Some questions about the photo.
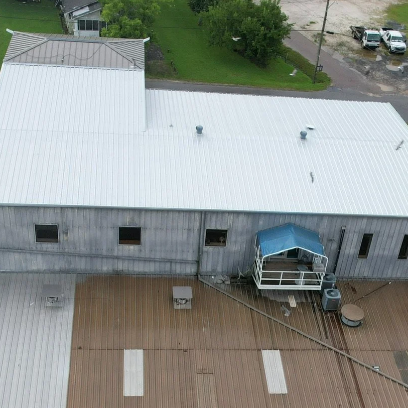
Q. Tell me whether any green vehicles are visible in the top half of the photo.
No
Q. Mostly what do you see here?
buildings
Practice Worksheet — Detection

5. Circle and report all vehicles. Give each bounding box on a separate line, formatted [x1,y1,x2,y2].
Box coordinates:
[383,27,408,53]
[354,24,384,49]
